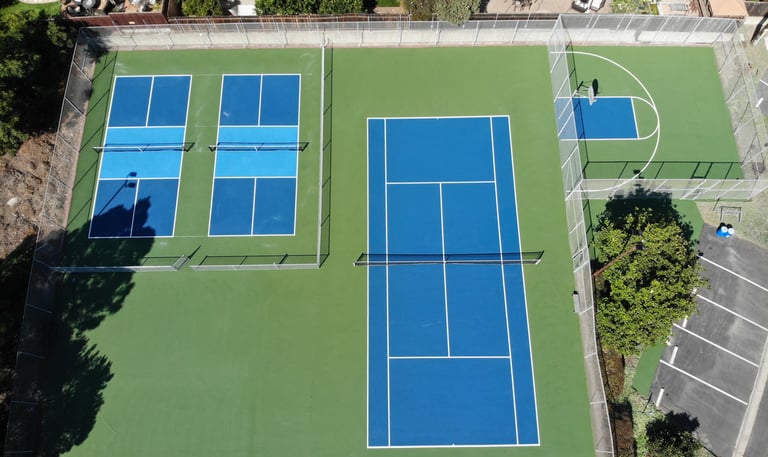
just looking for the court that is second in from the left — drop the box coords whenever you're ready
[208,74,301,236]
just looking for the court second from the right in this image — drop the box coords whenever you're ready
[367,116,540,448]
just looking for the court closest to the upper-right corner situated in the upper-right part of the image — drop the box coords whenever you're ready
[549,51,659,191]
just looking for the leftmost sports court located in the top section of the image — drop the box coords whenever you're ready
[88,75,192,238]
